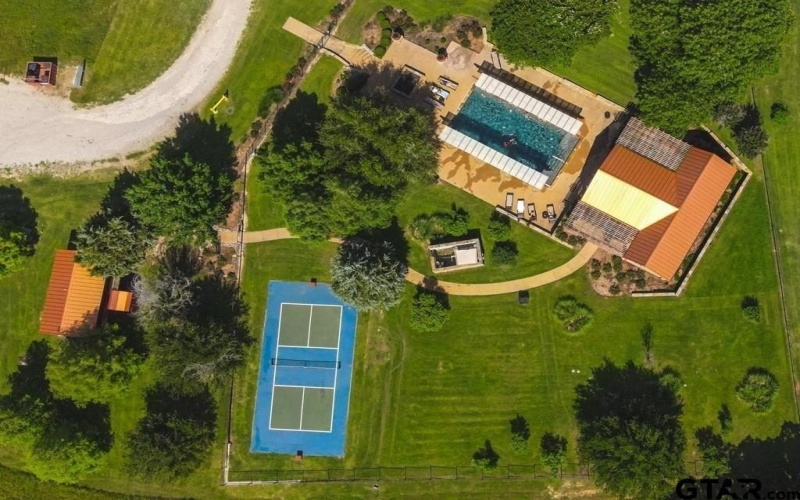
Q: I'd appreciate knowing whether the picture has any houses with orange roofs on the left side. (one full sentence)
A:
Yes, on the left side there is a house with an orange roof.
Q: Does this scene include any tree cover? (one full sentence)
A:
Yes, there is tree cover in the image.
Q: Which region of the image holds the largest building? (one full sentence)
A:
The largest building sits in the right section of the image.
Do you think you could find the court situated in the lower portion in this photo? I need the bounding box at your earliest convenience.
[251,280,355,457]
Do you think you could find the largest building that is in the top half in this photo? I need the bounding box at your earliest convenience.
[562,116,738,280]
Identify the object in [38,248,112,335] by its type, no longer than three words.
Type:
house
